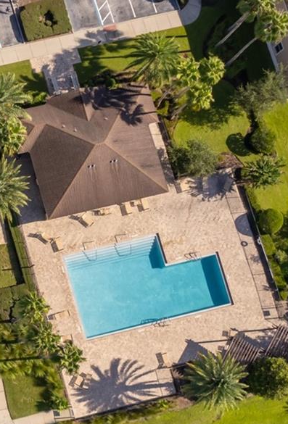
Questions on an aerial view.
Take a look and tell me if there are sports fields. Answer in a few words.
No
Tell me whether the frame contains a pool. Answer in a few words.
Yes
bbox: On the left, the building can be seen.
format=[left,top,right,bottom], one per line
[17,83,170,220]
